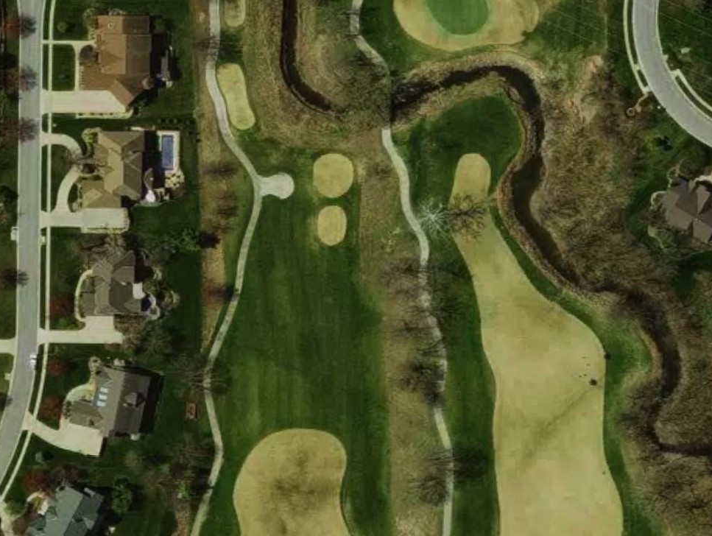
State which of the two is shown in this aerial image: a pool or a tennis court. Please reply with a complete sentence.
Looking from above, you can make out a pool.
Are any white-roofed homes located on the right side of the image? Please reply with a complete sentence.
No, looking on the right side of the image, there is no white-roofed home.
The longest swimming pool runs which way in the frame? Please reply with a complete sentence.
The longest swimming pool runs vertically in the image.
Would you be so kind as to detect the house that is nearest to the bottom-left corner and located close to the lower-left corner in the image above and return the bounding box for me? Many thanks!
[18,480,107,536]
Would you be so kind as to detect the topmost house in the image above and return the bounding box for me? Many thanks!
[83,13,168,108]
